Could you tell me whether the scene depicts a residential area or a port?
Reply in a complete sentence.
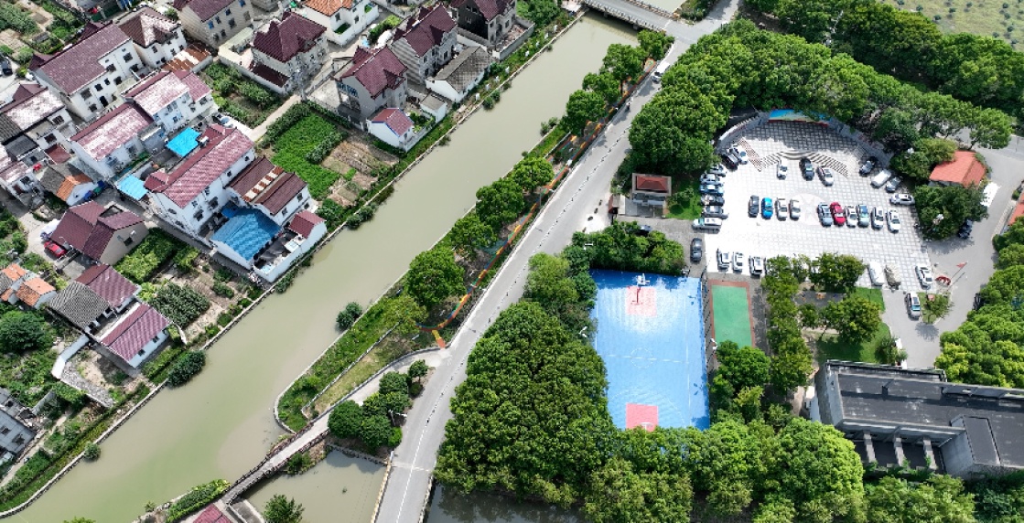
The picture captures a residential area.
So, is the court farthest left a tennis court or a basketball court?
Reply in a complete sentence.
The court farthest left is a basketball court.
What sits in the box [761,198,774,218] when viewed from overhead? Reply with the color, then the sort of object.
blue vehicle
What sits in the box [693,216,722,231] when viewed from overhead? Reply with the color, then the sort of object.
white vehicle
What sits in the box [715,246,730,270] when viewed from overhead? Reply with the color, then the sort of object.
white car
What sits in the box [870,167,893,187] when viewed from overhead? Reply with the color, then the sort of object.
white car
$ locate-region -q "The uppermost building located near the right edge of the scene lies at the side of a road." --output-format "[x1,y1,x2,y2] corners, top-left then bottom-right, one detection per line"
[927,152,984,199]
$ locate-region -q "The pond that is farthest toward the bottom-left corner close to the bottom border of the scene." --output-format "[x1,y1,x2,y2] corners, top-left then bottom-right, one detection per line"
[256,450,387,523]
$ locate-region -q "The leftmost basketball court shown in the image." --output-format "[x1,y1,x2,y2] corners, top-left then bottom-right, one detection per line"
[580,265,717,465]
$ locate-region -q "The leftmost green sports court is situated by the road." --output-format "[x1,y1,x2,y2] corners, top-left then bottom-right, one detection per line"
[709,279,757,388]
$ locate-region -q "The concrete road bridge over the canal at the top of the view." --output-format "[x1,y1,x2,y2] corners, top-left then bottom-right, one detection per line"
[582,0,685,34]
